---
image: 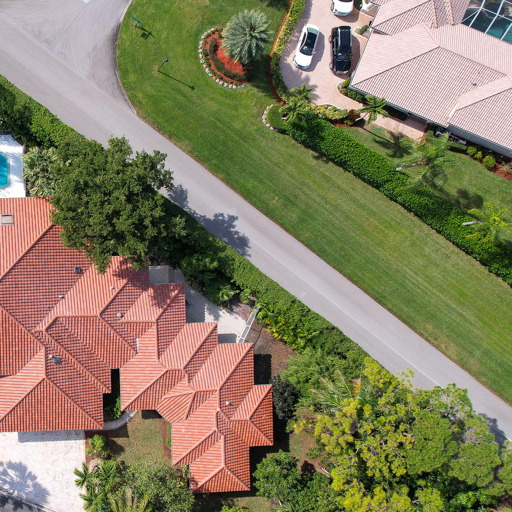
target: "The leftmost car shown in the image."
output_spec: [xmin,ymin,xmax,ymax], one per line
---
[290,21,321,74]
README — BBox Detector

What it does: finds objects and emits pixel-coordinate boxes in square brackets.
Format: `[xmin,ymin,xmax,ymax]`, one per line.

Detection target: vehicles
[328,24,356,76]
[290,21,321,74]
[330,0,356,18]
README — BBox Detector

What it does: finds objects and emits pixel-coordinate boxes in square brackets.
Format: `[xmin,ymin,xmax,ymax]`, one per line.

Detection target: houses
[0,196,275,494]
[343,0,512,161]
